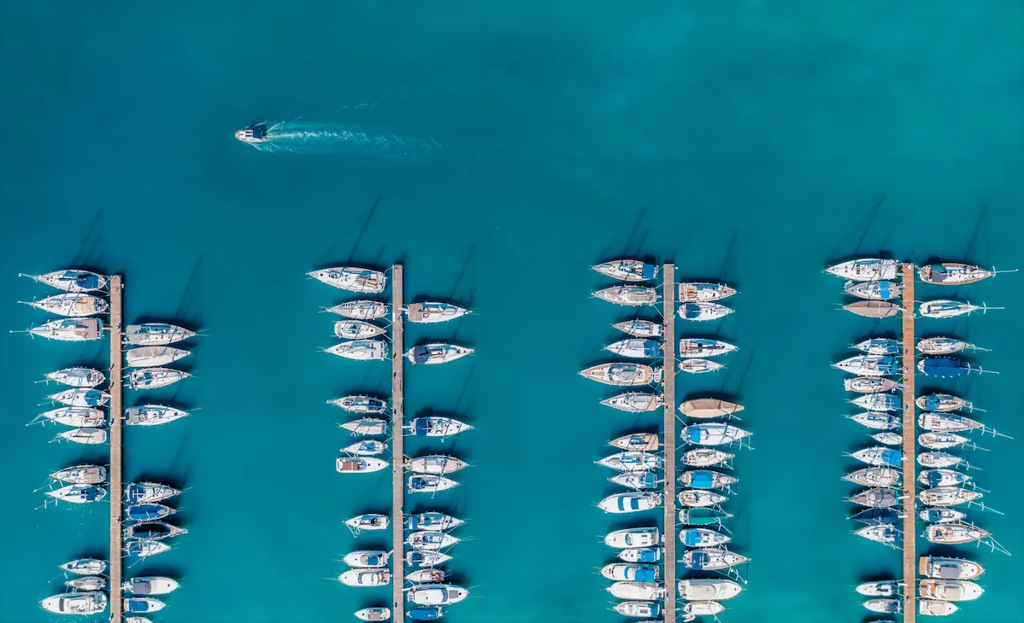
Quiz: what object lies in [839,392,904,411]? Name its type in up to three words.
boat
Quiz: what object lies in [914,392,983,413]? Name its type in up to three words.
boat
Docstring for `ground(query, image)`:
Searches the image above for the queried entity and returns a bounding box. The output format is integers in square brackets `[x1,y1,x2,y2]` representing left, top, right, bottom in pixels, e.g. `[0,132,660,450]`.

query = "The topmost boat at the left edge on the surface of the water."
[23,267,111,293]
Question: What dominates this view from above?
water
